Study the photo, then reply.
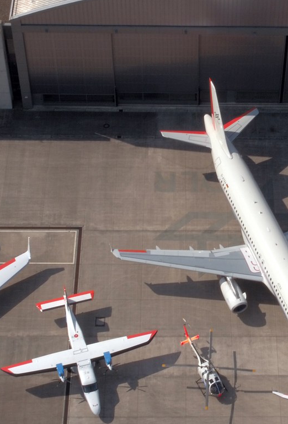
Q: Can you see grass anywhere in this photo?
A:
No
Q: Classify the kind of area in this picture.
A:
airport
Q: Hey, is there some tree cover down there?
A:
No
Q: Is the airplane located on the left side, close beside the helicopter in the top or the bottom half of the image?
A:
bottom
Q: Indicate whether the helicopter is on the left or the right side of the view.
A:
right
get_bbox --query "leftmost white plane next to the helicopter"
[0,287,156,415]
